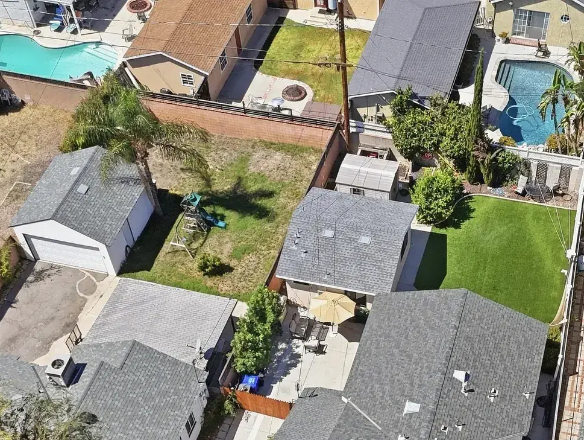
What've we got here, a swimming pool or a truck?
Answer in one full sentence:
Looking from above, you can make out a swimming pool.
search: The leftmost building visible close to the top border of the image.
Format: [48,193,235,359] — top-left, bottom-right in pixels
[4,0,81,34]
